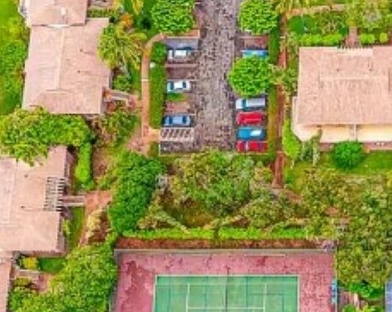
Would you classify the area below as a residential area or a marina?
residential area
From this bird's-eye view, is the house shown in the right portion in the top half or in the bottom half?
top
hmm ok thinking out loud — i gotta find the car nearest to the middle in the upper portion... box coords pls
[164,114,193,128]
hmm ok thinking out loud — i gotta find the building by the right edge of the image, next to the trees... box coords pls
[290,45,392,152]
